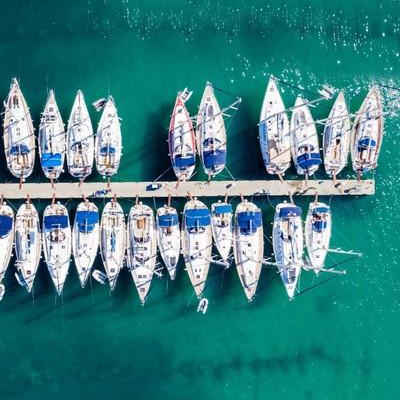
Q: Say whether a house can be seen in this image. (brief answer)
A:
No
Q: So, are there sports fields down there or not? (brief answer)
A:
No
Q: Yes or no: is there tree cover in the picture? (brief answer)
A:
No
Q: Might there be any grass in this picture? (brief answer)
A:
No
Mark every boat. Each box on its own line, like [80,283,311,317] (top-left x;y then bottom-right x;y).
[181,88,192,102]
[14,193,42,304]
[92,269,108,286]
[0,281,8,298]
[319,82,386,184]
[12,270,26,289]
[91,98,108,111]
[92,93,122,186]
[259,66,319,184]
[182,191,222,310]
[291,90,342,184]
[234,191,286,313]
[197,71,240,186]
[41,194,71,309]
[318,83,336,99]
[209,191,241,277]
[270,191,342,310]
[348,79,400,183]
[197,299,209,316]
[38,78,66,187]
[72,194,99,298]
[99,194,128,300]
[159,191,186,290]
[0,195,18,282]
[305,190,359,285]
[124,192,158,316]
[169,87,202,187]
[64,81,96,186]
[0,71,38,189]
